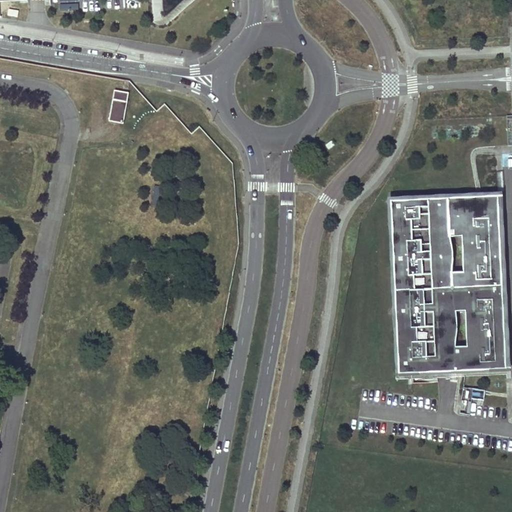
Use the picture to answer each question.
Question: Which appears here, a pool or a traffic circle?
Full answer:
Of the two, only a traffic circle appears.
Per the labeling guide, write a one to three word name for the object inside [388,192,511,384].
building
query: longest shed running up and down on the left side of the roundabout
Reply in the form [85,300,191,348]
[108,90,130,124]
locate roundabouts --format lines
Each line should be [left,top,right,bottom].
[212,25,336,152]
